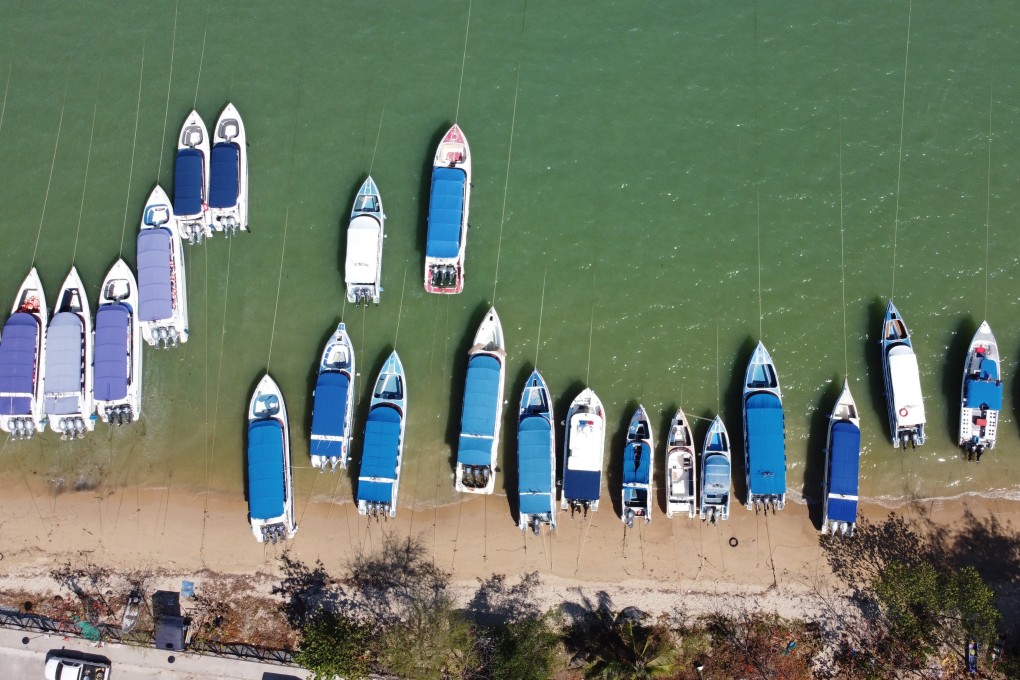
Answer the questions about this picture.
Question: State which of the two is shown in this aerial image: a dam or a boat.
boat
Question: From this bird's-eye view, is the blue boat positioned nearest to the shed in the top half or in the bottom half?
bottom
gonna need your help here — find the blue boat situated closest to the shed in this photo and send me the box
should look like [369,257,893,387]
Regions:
[248,374,298,545]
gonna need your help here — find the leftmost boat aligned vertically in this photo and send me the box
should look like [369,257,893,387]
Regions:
[0,266,54,437]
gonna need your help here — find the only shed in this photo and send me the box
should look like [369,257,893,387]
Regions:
[154,609,186,649]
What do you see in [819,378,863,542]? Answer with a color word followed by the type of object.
blue boat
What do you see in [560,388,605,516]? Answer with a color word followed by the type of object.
white boat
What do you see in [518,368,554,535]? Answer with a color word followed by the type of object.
blue boat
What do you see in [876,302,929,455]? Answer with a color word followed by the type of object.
white boat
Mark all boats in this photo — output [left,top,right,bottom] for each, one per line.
[248,374,298,545]
[0,266,54,437]
[95,258,146,425]
[344,175,387,308]
[876,302,929,455]
[358,349,406,522]
[456,306,506,494]
[43,266,98,436]
[518,368,554,535]
[307,323,360,473]
[560,388,605,516]
[207,102,254,235]
[665,407,698,517]
[738,340,790,514]
[172,110,214,242]
[955,321,1002,455]
[424,122,474,296]
[623,405,653,530]
[137,184,191,347]
[819,378,863,542]
[696,415,732,528]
